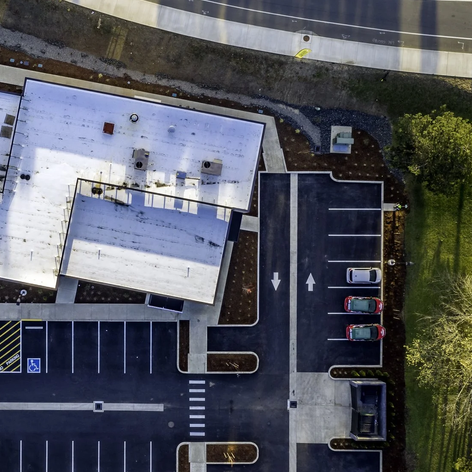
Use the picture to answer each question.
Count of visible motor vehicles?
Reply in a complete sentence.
I count 3 motor vehicles.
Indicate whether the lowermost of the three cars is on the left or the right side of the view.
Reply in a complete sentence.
The lowermost of the three cars is on the right side of the image.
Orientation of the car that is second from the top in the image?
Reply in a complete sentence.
Seen from above, the car that is second from the top lies from left to right.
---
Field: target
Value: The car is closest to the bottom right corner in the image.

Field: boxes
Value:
[344,323,382,343]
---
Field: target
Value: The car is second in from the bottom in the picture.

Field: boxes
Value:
[343,296,381,316]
